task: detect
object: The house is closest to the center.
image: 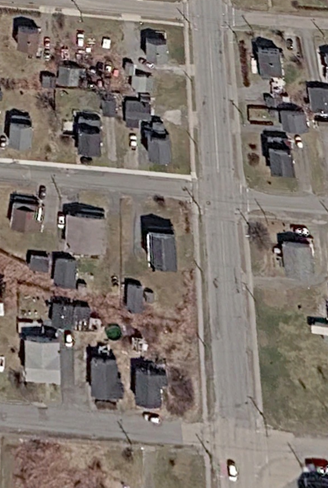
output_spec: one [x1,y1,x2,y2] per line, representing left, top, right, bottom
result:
[147,227,177,272]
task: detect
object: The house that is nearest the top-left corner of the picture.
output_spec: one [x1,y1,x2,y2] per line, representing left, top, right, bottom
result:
[17,25,41,58]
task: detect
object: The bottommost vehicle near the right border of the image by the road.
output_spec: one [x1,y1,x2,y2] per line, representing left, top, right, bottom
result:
[306,463,328,476]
